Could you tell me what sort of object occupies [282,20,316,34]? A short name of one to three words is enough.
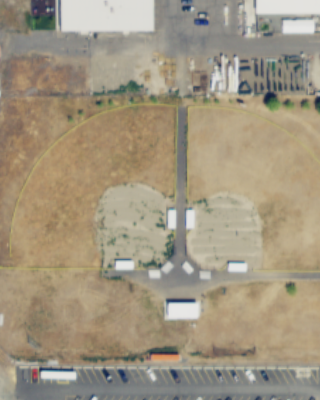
shed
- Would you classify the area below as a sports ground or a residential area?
sports ground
